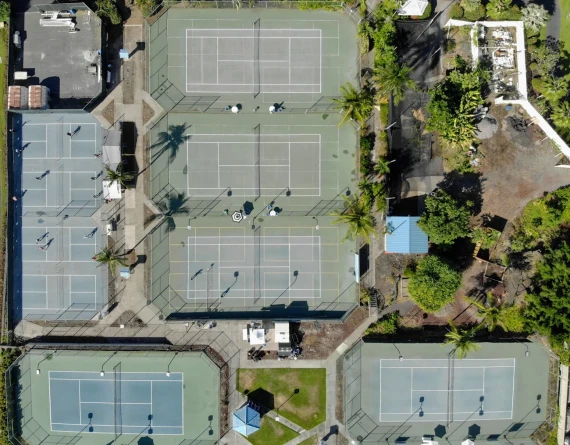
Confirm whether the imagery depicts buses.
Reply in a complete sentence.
No, there appears to be no bus in this shot.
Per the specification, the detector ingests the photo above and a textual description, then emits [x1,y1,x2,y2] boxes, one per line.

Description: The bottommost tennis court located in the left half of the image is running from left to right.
[13,349,220,445]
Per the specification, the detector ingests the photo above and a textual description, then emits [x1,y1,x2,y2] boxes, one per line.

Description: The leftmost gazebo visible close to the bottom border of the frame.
[234,403,259,437]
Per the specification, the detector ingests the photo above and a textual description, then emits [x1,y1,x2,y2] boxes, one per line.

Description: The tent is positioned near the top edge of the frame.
[394,0,428,21]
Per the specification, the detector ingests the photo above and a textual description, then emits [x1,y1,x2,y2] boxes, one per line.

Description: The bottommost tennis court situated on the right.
[345,342,549,443]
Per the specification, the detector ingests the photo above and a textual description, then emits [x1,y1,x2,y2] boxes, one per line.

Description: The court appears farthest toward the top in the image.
[150,7,358,113]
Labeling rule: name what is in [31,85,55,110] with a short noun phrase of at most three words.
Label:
shed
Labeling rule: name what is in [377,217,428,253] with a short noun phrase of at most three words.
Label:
building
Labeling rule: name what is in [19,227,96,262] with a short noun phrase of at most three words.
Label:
sports court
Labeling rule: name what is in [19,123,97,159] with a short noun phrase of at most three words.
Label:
sports court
